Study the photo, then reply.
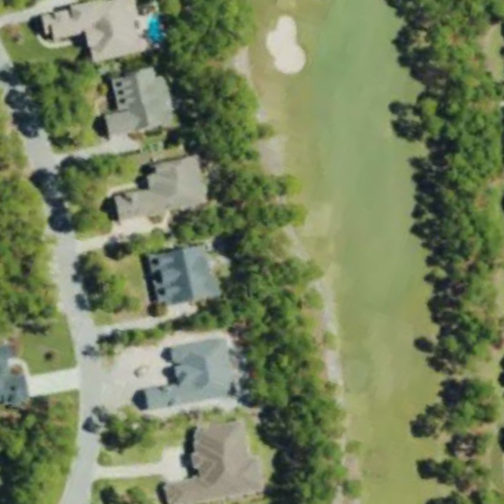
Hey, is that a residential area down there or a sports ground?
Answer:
residential area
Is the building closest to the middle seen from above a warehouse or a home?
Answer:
home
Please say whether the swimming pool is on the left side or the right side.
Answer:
left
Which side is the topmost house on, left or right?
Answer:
left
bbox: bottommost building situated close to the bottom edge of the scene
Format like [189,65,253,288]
[169,420,269,504]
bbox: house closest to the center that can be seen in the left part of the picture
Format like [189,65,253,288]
[149,246,222,305]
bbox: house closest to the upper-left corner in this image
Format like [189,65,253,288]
[40,0,149,63]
